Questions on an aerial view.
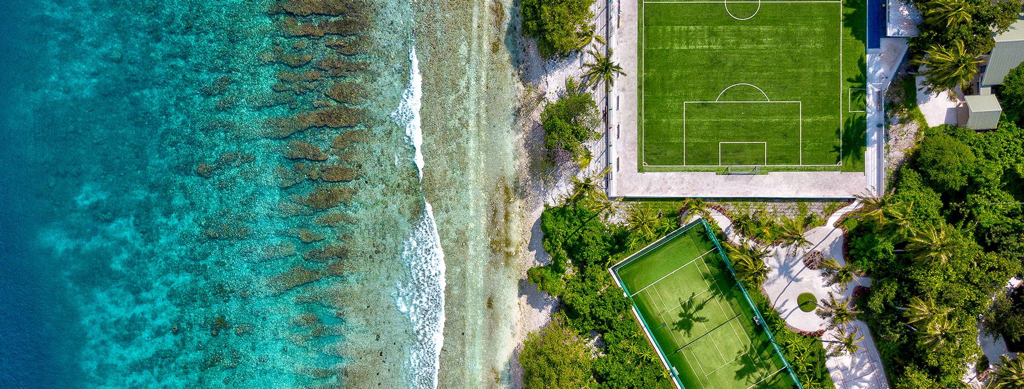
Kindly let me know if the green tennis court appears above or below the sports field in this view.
below it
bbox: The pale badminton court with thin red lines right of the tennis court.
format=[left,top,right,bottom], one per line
[824,320,890,389]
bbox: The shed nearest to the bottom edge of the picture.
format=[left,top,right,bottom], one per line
[958,95,1003,130]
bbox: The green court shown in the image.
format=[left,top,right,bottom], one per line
[609,219,794,389]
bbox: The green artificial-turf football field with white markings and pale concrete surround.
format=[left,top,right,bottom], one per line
[619,0,867,196]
